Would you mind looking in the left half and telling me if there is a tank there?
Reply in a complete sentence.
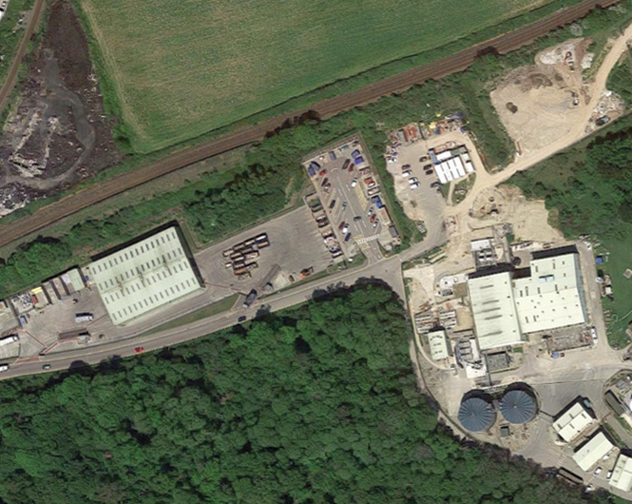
No, no tank appears in the left half.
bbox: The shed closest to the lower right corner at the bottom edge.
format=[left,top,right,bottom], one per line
[609,454,632,492]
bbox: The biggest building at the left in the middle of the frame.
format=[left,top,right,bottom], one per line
[87,226,203,327]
